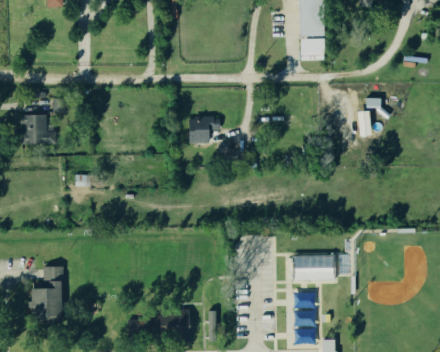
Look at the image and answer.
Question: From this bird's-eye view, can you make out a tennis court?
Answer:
No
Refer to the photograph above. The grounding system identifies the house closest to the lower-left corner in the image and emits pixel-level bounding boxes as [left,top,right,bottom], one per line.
[32,266,64,319]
